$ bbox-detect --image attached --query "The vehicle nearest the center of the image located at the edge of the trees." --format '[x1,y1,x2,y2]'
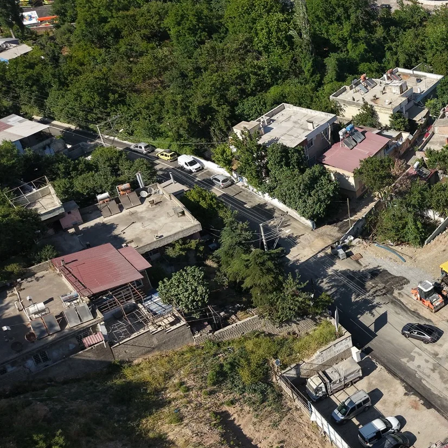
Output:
[205,171,234,187]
